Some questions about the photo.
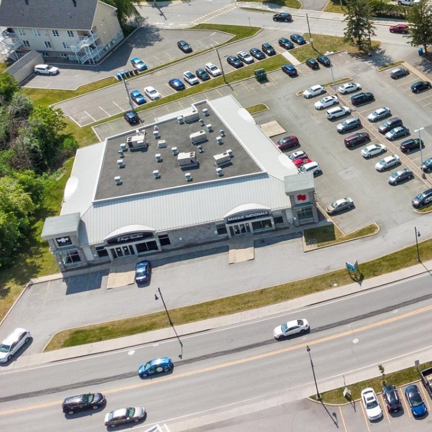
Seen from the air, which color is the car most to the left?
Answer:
white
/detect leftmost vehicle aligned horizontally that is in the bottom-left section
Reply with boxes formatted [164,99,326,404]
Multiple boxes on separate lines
[57,392,108,416]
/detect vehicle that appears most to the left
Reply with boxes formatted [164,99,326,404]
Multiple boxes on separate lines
[0,330,30,362]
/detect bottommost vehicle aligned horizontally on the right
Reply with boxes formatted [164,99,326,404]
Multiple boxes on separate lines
[273,320,311,340]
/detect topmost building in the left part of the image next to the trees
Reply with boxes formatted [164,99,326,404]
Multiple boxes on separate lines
[0,0,126,66]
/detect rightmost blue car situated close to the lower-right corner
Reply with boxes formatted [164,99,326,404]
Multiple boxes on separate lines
[404,385,428,417]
